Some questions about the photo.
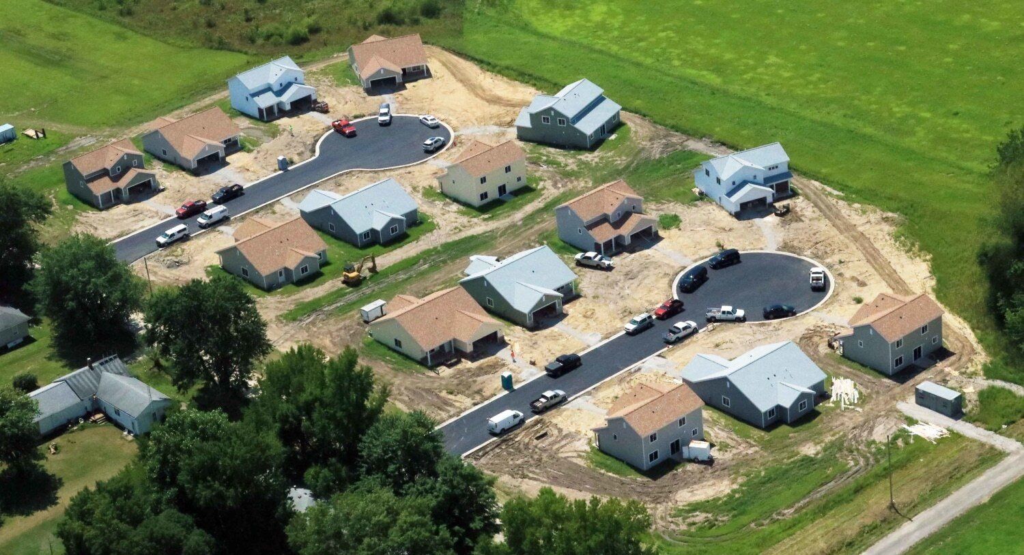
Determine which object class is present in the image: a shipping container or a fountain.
shipping container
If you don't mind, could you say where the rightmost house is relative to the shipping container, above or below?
above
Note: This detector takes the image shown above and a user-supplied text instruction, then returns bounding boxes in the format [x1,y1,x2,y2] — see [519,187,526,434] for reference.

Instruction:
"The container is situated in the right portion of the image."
[916,381,962,416]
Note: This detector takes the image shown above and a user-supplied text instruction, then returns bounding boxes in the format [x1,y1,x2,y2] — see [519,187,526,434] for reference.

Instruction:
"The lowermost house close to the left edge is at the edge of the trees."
[33,354,174,435]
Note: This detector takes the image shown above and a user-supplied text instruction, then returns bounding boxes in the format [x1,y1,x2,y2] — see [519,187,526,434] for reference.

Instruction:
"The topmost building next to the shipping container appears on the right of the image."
[835,293,944,375]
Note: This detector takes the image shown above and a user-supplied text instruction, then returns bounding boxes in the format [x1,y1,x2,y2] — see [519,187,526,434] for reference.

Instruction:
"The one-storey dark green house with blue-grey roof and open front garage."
[458,245,577,326]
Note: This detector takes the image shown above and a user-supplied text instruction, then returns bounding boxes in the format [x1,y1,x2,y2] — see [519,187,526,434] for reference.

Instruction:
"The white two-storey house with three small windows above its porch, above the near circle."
[693,142,795,216]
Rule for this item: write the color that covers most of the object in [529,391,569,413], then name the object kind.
gray truck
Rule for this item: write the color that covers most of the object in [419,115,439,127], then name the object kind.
white vehicle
